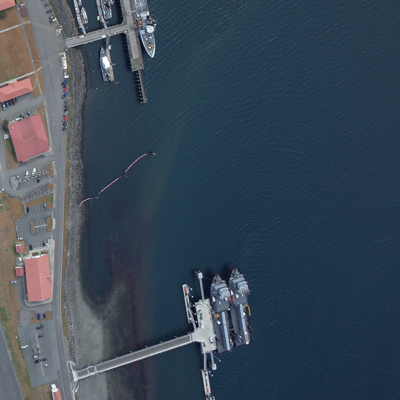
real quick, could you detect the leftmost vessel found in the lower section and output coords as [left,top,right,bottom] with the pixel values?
[210,271,235,353]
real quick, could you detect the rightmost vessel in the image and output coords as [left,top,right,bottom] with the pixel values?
[228,266,255,346]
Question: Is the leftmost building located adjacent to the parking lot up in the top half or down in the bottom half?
bottom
